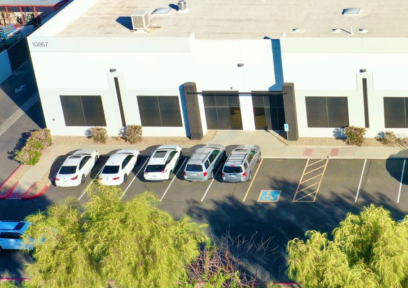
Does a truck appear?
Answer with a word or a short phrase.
No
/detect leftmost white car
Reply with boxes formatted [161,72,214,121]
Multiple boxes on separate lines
[53,144,105,184]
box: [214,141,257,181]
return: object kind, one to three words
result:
car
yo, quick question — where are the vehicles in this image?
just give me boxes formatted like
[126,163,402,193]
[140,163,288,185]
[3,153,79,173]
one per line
[53,144,105,184]
[93,145,143,184]
[135,140,182,180]
[214,141,257,181]
[0,212,53,253]
[175,140,220,181]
